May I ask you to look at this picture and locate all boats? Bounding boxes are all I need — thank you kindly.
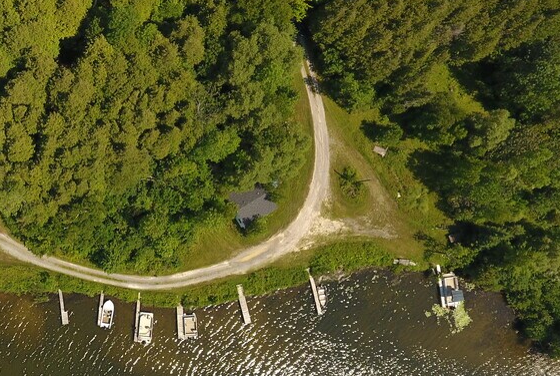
[442,274,467,311]
[101,299,113,331]
[317,286,326,307]
[183,313,197,340]
[136,311,154,345]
